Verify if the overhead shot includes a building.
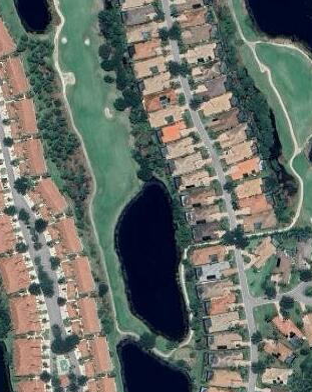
Yes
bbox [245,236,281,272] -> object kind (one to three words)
house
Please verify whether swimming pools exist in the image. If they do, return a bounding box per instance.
[57,355,70,374]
